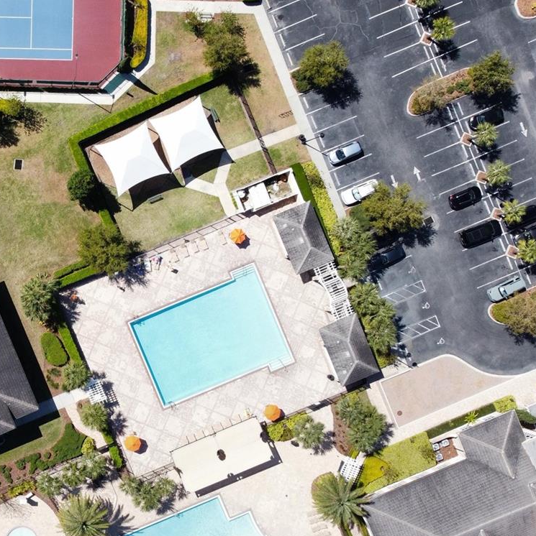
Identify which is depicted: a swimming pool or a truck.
swimming pool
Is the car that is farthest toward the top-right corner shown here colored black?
Yes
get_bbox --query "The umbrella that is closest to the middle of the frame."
[228,226,246,244]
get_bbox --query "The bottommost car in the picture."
[484,273,528,300]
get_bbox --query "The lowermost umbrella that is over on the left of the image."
[124,436,140,453]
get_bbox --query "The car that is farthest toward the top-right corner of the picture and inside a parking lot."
[464,106,505,131]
